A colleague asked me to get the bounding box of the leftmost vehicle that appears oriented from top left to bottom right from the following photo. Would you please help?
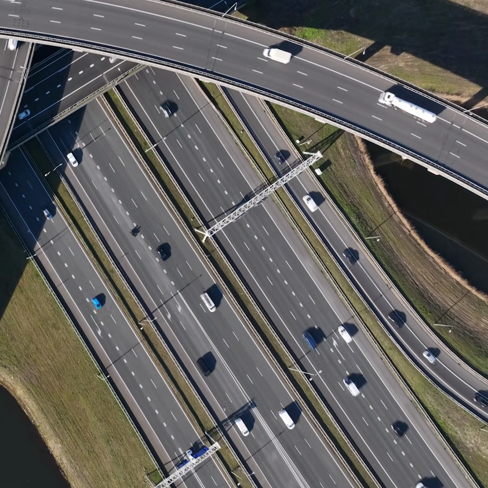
[40,207,53,222]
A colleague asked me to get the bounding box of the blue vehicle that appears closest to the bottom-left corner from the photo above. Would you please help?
[90,293,103,310]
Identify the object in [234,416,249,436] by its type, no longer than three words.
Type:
vehicle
